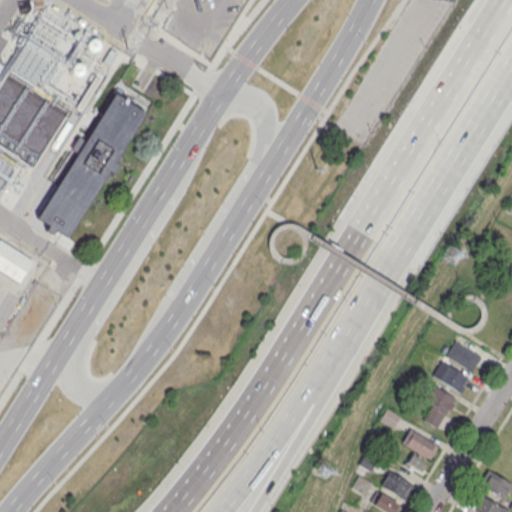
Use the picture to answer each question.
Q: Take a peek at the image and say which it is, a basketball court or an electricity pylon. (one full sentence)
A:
This aerial view contains an electricity pylon.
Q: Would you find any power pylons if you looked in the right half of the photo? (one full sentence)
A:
Yes, looking in the right half of the photo, one can make out a power pylon.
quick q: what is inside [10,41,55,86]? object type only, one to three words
building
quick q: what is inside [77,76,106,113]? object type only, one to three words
shed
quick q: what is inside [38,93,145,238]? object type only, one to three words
building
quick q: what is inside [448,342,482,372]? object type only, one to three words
house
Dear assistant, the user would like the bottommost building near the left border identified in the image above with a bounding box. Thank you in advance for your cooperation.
[0,242,38,290]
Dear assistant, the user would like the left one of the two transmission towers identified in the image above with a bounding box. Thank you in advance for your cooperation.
[314,460,337,481]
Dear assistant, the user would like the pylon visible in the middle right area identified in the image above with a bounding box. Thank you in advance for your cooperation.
[446,246,470,266]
